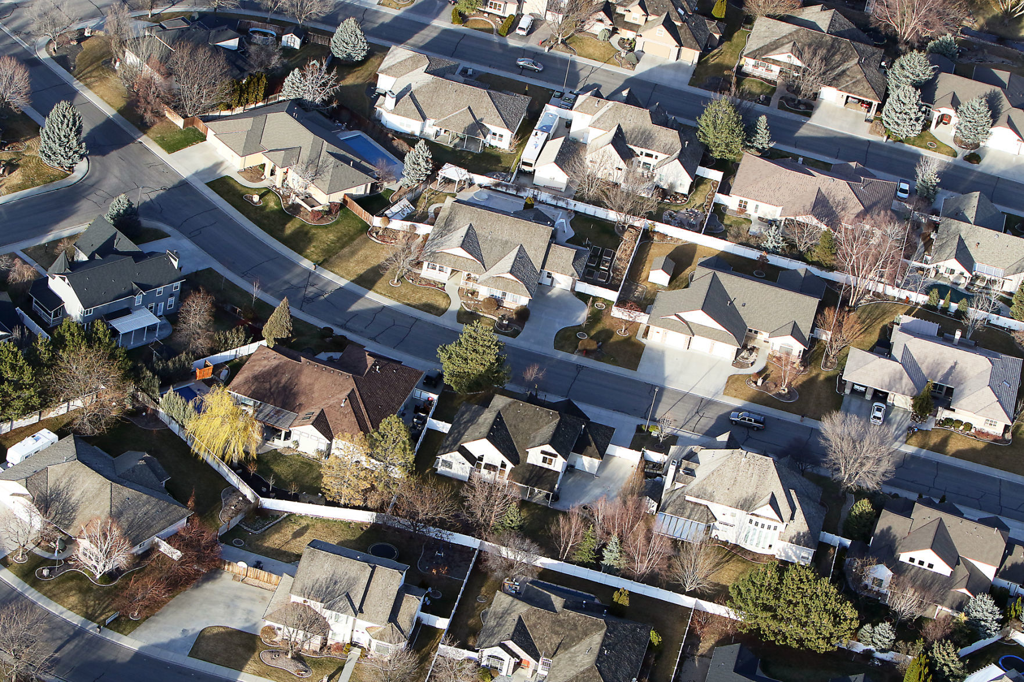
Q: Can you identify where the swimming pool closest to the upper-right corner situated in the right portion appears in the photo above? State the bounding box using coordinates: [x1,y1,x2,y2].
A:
[923,282,1003,314]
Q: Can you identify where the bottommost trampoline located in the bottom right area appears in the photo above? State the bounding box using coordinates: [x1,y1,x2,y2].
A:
[998,651,1024,677]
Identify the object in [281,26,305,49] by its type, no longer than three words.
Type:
shed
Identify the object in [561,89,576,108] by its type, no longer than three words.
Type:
vehicle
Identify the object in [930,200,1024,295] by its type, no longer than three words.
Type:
house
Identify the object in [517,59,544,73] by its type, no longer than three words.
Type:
car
